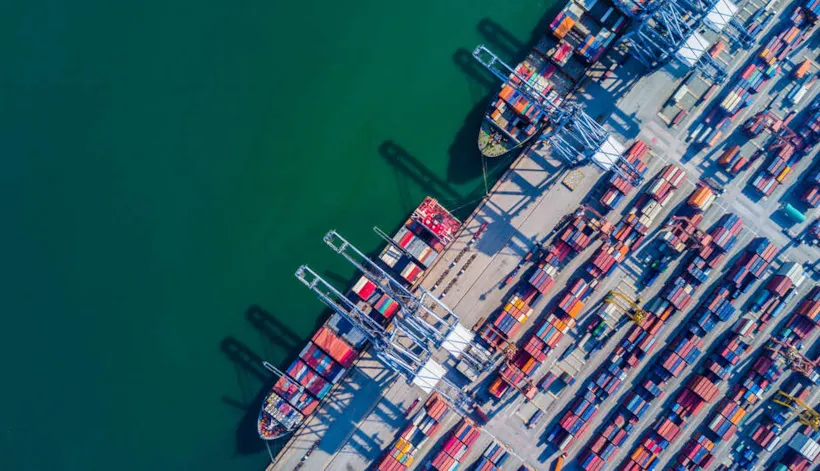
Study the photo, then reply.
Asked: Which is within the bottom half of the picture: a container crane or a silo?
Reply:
container crane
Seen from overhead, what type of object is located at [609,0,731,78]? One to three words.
container crane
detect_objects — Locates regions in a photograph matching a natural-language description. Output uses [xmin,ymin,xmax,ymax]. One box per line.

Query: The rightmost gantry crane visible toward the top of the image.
[740,107,796,147]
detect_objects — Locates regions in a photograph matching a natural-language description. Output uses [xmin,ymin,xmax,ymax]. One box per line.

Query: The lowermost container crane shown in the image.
[757,383,820,431]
